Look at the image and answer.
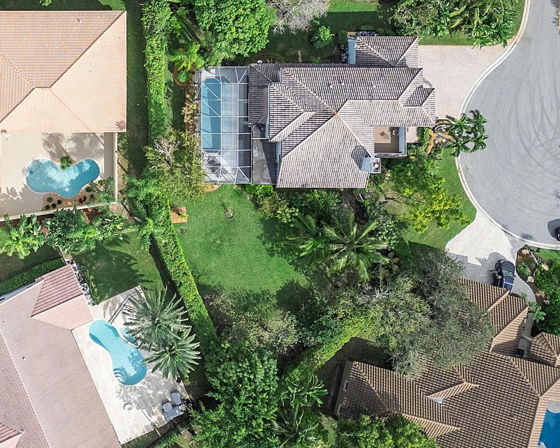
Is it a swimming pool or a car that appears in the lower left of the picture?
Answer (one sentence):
Visible in the lower left of the picture is a swimming pool.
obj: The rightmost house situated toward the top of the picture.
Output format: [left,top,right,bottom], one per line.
[245,35,437,189]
